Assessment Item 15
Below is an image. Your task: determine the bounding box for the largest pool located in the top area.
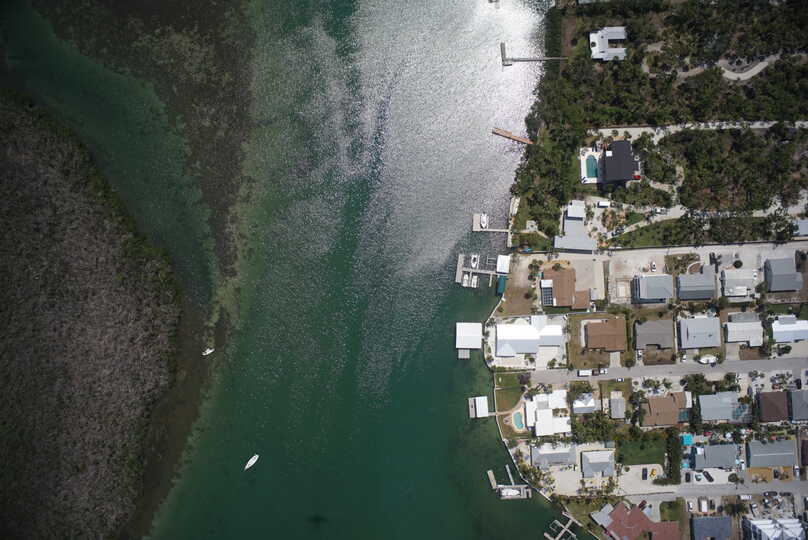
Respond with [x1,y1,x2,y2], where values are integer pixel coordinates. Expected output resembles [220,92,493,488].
[581,148,602,183]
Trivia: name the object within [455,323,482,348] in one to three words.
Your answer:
building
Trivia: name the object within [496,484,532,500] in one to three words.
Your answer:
pier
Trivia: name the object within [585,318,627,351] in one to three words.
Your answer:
house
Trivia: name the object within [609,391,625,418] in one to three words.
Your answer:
house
